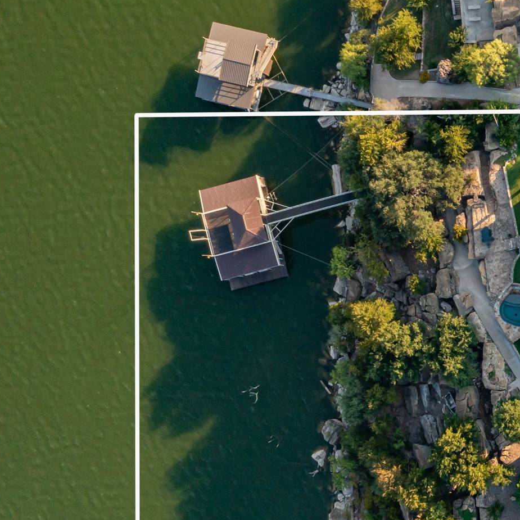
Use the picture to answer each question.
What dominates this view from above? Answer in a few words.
water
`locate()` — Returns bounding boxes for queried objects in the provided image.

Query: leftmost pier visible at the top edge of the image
[193,23,278,112]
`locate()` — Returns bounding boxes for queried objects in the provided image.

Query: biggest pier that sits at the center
[188,174,290,290]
